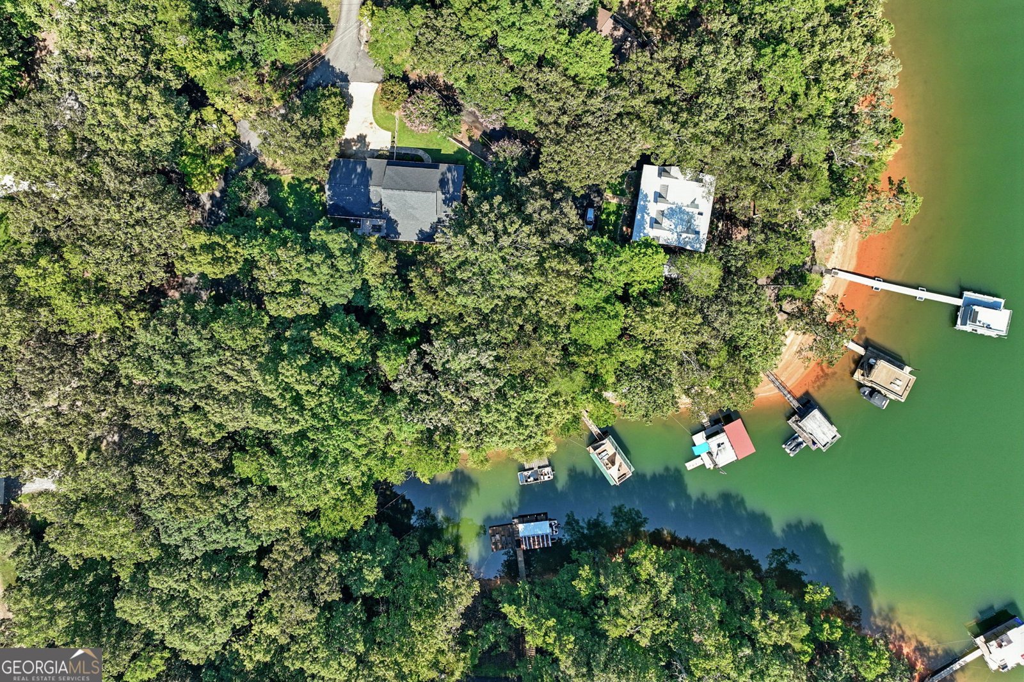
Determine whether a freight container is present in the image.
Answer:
No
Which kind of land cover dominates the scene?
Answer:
trees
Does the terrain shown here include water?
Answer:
Yes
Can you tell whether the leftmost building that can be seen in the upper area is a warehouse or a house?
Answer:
house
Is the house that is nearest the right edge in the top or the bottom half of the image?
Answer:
top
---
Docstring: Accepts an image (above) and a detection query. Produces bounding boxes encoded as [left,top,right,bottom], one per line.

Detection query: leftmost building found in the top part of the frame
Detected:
[327,158,467,242]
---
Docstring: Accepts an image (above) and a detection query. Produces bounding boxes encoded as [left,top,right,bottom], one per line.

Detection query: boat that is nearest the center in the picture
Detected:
[519,467,555,484]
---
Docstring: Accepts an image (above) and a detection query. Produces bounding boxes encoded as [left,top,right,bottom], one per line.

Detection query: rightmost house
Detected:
[630,167,712,252]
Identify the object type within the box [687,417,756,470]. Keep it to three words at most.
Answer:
pier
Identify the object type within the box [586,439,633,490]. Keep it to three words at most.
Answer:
pier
